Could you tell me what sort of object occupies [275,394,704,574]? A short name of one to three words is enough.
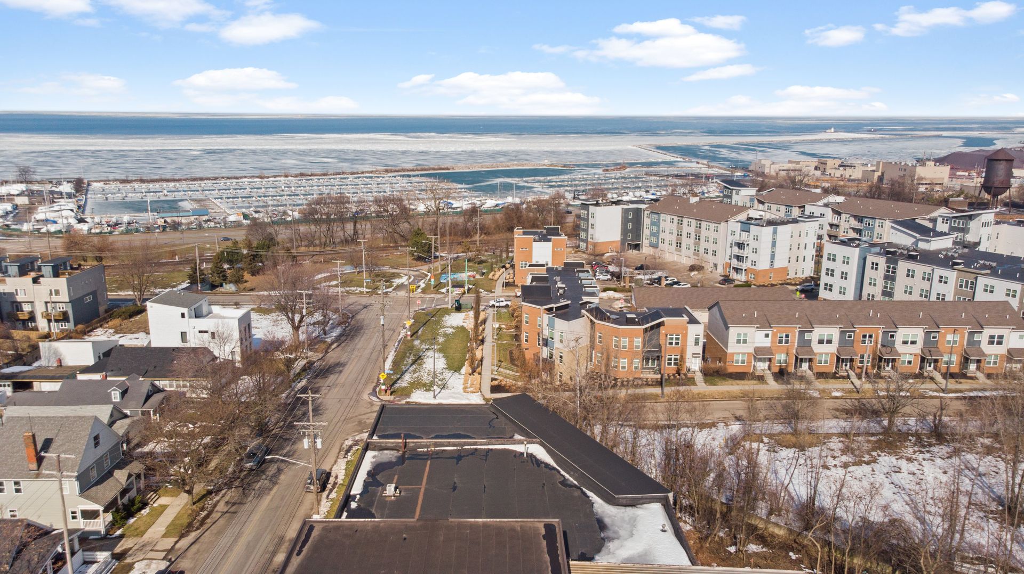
building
